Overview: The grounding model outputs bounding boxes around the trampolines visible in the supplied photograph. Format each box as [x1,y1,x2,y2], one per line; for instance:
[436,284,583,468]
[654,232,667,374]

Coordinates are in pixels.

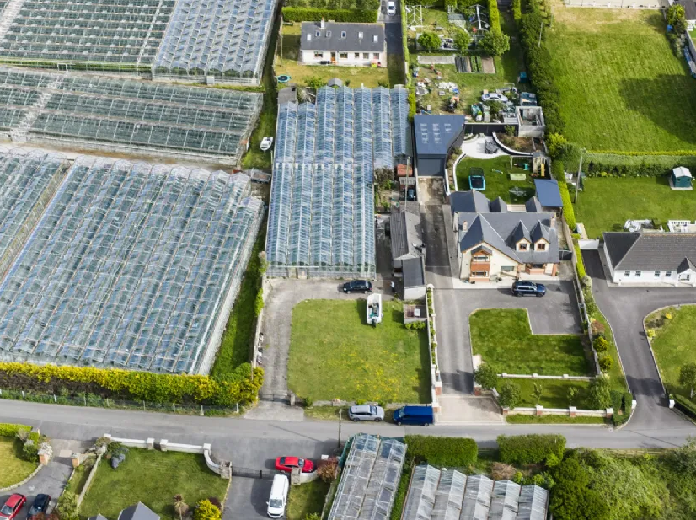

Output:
[275,73,292,81]
[469,167,488,187]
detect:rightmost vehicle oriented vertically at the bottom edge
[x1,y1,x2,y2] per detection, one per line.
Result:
[267,468,286,515]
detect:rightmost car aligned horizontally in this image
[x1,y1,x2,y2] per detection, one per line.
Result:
[511,277,547,295]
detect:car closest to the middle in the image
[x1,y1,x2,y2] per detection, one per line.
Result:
[340,277,370,293]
